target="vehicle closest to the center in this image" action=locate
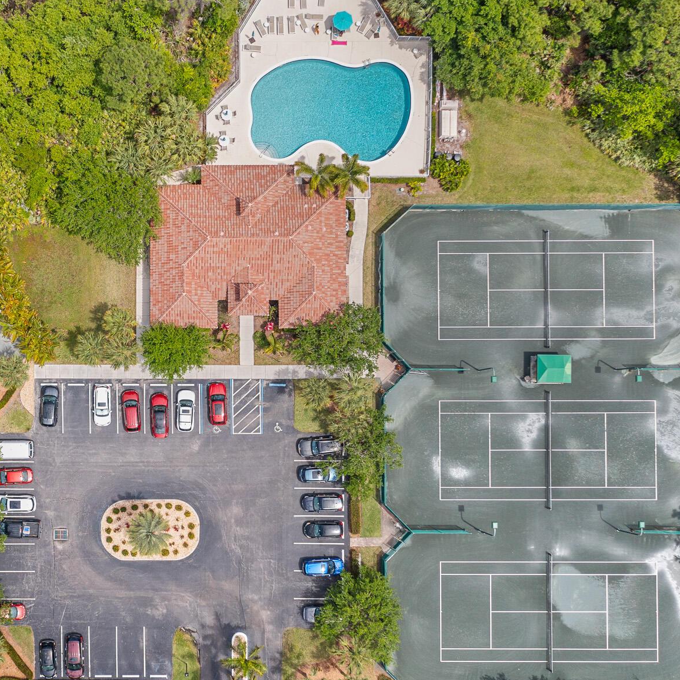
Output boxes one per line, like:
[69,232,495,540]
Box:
[296,437,342,458]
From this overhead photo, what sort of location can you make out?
sports ground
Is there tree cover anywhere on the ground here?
Yes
